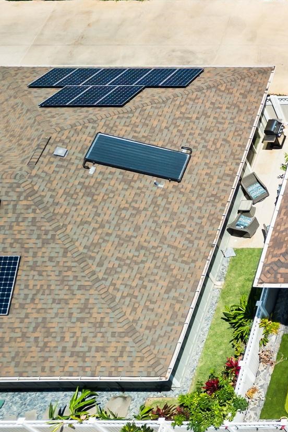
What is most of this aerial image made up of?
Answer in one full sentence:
What you mostly see from above here is buildings.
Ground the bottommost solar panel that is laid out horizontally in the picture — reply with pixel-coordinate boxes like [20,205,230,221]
[87,128,189,179]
